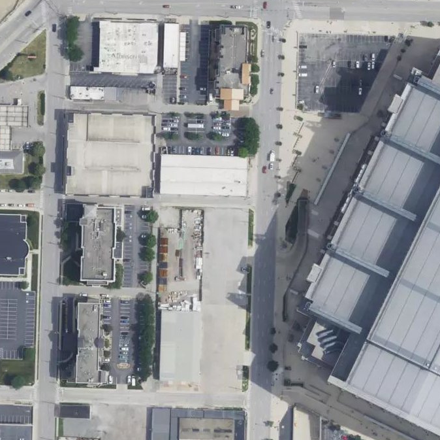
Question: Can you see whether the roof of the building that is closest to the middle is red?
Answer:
No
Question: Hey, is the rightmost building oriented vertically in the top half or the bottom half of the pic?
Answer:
top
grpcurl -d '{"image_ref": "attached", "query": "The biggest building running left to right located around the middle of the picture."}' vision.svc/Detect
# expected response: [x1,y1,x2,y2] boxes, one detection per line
[160,154,248,196]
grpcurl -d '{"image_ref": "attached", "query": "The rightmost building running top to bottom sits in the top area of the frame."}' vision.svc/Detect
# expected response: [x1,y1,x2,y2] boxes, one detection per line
[208,25,250,110]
